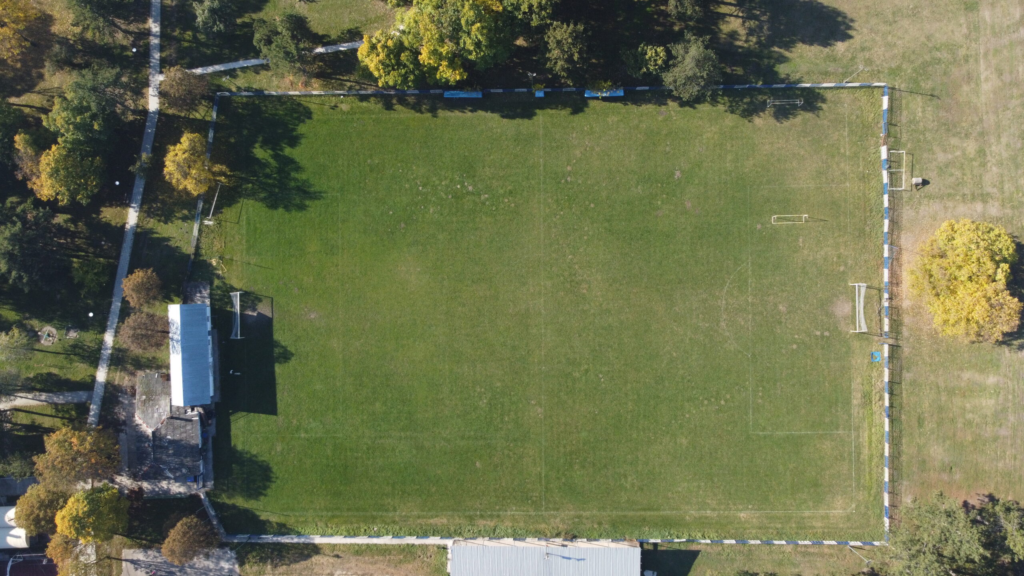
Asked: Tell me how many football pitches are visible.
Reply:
1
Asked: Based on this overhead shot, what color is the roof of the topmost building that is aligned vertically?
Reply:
blue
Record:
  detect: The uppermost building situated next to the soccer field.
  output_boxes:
[170,304,216,407]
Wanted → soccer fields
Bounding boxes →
[244,106,860,517]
